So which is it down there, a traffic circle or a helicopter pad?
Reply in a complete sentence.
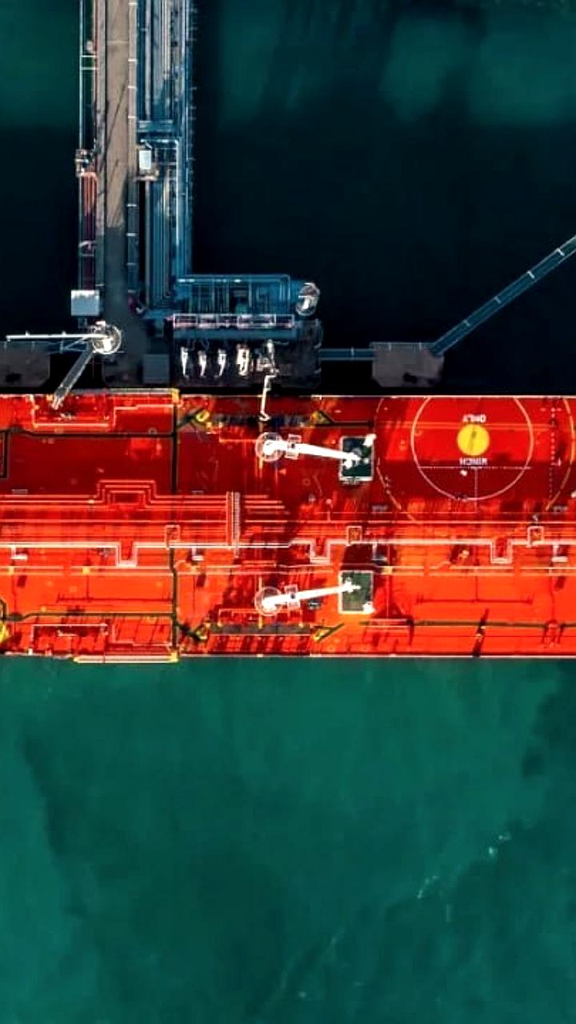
The one in the frame is a helicopter pad.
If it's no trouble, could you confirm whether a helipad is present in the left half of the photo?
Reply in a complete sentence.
No, no helipad is visible in the left half of the photo.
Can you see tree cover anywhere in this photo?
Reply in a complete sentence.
No, there is no tree cover in the image.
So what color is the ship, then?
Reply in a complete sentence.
The ship is red.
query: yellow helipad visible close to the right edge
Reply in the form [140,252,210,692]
[373,399,574,524]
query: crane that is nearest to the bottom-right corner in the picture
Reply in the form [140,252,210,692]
[258,583,359,613]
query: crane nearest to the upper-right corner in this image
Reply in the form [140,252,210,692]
[258,433,364,467]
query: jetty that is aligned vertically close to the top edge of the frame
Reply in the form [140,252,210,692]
[96,0,139,314]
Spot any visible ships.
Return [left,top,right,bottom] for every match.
[0,386,576,664]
